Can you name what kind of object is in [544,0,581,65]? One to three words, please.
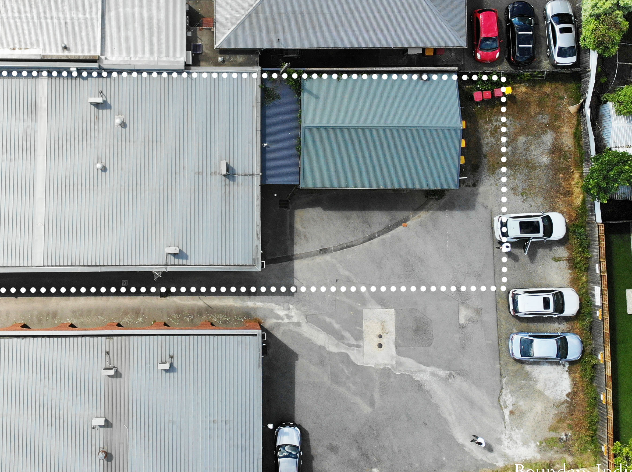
car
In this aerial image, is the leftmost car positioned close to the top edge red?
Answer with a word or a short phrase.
Yes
